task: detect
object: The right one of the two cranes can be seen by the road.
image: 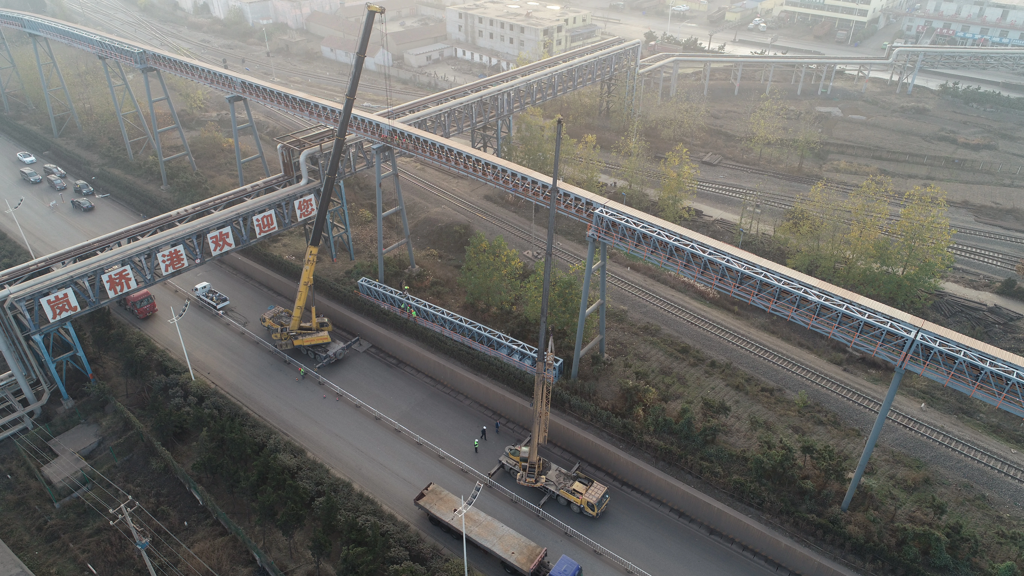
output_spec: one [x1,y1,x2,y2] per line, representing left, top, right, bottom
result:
[488,99,616,520]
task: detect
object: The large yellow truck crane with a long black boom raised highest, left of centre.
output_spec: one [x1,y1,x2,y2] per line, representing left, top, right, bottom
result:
[254,0,414,372]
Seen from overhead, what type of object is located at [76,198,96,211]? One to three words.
vehicle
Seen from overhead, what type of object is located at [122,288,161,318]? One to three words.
truck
